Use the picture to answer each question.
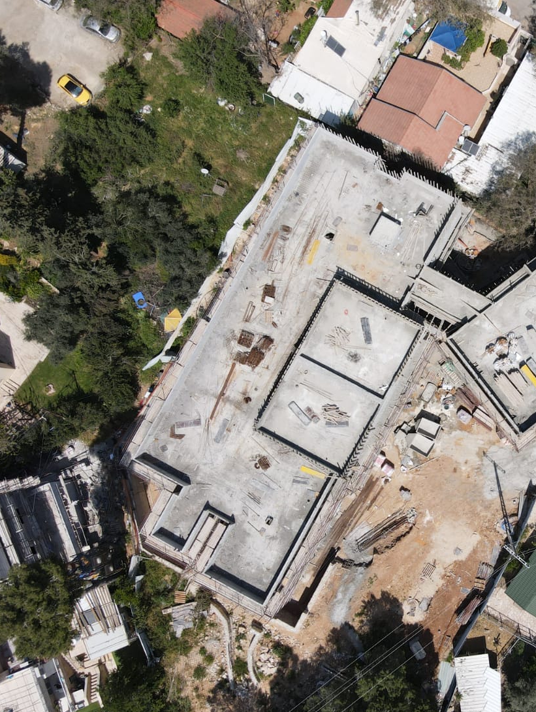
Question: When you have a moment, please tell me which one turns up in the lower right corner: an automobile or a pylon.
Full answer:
The feature located in the lower right corner is a pylon.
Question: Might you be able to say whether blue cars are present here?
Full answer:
No, I can see no blue car in this picture.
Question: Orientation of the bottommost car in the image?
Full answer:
The bottommost car runs at an angle in the image.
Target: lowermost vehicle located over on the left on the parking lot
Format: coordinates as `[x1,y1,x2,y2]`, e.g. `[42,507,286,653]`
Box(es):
[54,69,95,107]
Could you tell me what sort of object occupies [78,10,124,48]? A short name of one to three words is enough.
car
